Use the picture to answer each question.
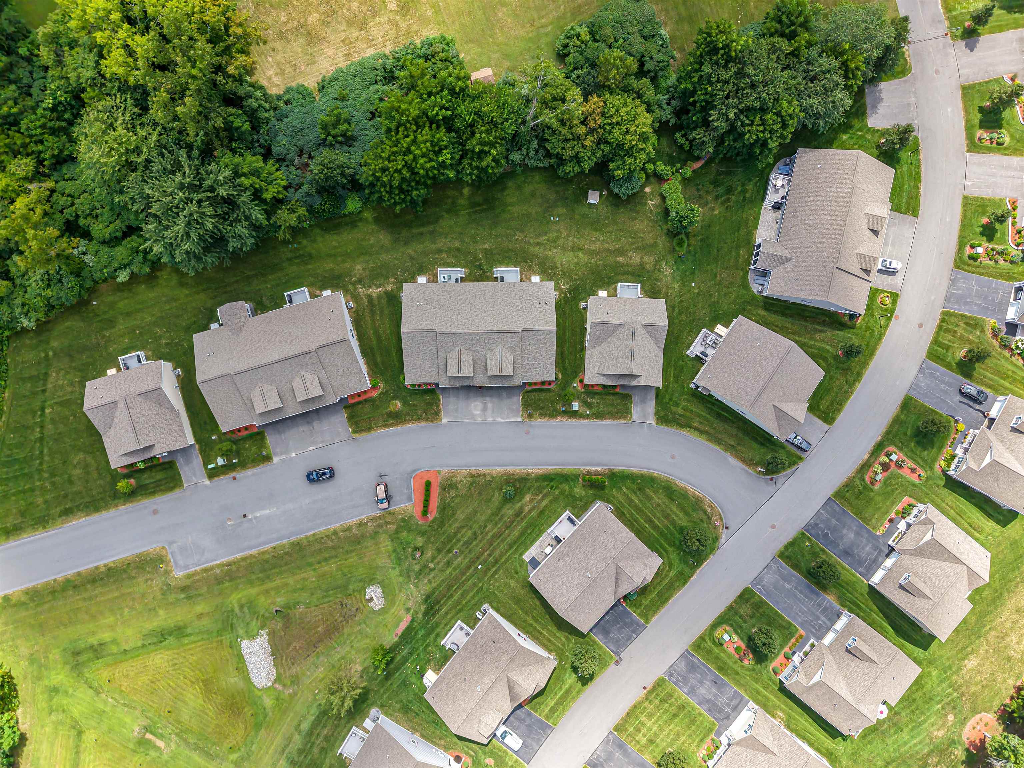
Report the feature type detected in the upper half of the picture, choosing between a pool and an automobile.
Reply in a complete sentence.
It is an automobile that can be seen in the upper half of the picture.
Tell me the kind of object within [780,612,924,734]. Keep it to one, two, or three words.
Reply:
house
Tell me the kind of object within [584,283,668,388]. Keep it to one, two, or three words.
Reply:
house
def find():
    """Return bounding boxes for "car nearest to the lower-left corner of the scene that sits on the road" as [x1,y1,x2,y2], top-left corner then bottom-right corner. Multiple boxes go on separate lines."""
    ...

[307,467,336,482]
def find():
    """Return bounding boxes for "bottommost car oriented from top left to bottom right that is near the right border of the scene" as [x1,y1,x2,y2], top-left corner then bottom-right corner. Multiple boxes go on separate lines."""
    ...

[958,382,987,405]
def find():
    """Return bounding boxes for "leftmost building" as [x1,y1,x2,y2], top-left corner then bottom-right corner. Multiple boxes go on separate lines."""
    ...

[83,352,191,469]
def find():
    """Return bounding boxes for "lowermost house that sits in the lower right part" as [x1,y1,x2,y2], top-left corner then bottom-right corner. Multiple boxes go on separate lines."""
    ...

[704,702,840,768]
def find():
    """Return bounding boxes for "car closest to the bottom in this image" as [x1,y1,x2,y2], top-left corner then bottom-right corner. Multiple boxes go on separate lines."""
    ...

[496,724,524,751]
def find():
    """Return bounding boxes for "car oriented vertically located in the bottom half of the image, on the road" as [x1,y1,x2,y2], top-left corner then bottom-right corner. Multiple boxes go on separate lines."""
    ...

[376,481,390,510]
